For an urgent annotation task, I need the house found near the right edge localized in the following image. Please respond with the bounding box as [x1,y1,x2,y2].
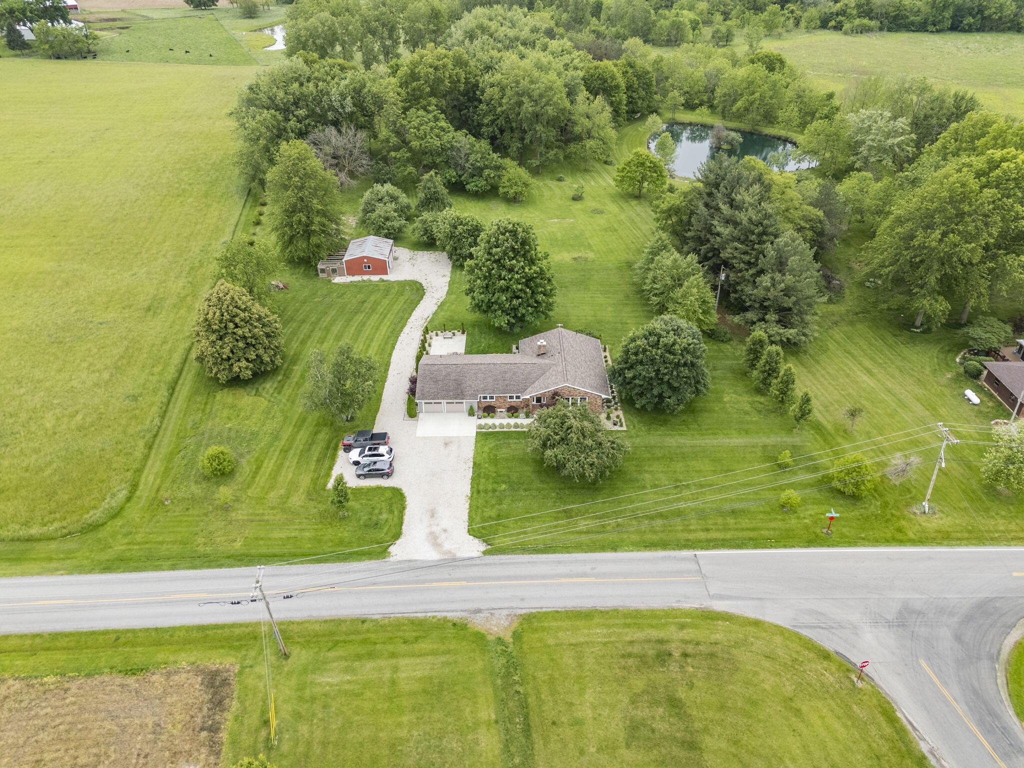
[983,363,1024,418]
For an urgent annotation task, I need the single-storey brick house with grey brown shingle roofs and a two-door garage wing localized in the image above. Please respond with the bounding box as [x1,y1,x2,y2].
[414,321,611,414]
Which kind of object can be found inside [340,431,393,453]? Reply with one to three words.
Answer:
truck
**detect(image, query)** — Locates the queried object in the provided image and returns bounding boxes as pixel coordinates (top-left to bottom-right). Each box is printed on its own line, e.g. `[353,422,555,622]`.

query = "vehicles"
[340,431,393,453]
[355,460,396,480]
[351,447,395,466]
